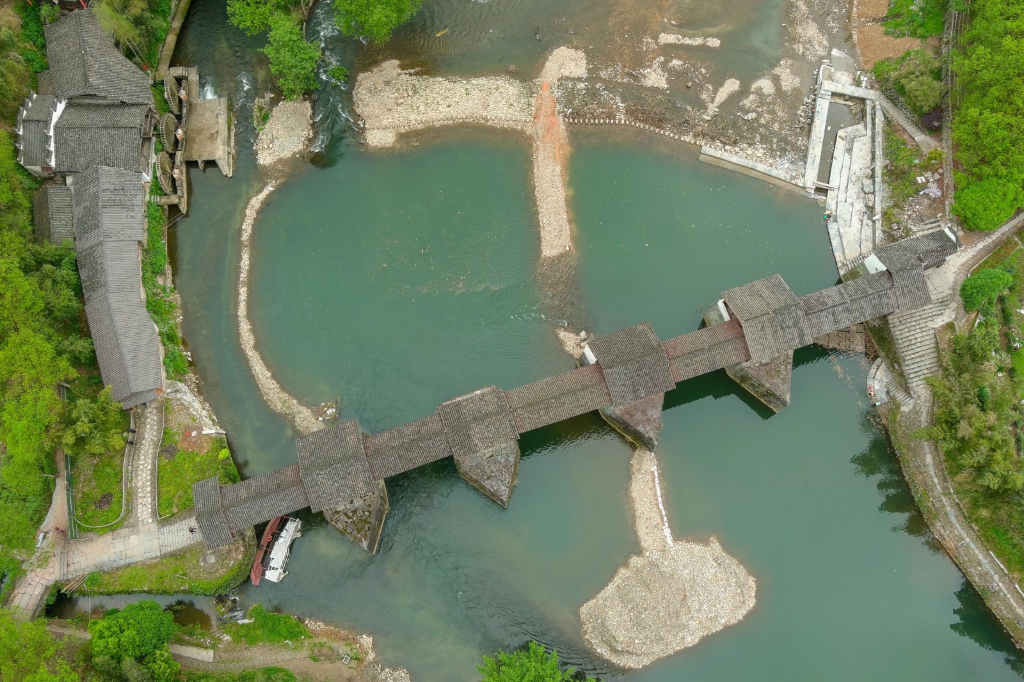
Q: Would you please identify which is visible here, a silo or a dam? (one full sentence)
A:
Visible in the photo is a dam.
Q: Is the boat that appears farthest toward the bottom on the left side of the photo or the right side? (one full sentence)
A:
The boat that appears farthest toward the bottom appears in the left half of the scene.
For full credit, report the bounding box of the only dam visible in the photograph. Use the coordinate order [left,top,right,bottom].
[698,146,825,208]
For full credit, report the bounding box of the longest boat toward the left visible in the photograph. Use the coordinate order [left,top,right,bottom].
[250,510,302,586]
